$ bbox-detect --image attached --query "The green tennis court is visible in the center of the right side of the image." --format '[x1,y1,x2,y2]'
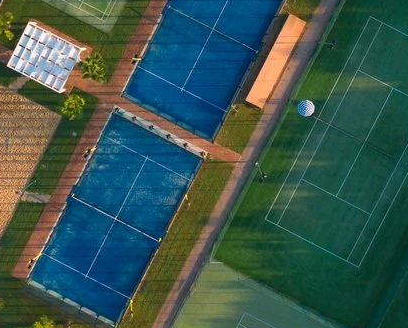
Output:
[213,0,408,328]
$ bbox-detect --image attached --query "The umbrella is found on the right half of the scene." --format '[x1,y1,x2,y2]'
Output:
[297,99,315,117]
